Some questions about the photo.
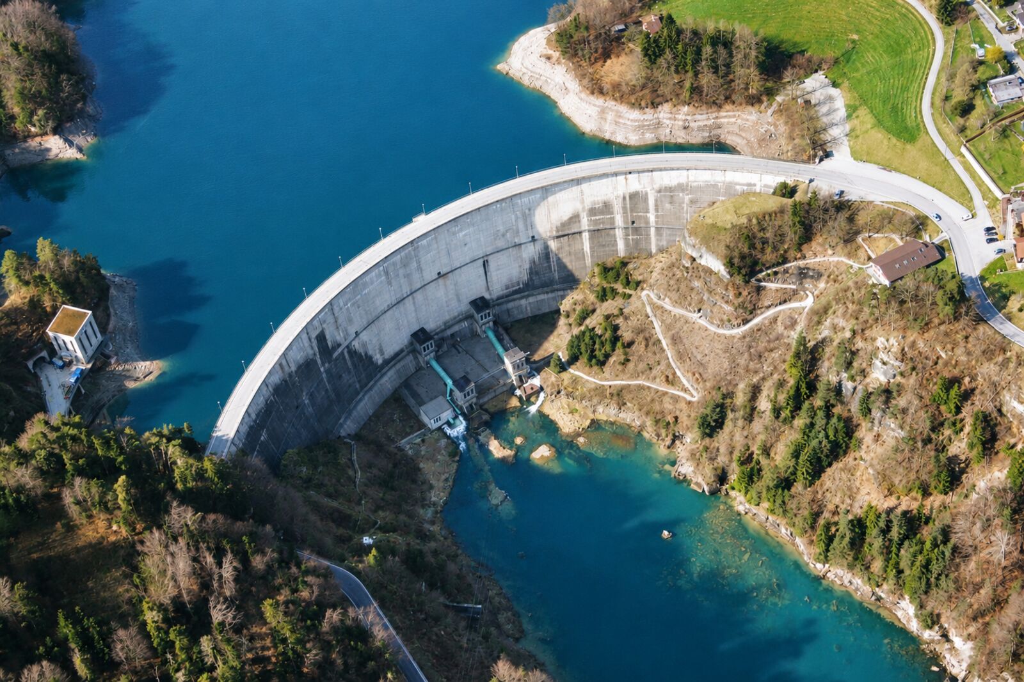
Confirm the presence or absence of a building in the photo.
Yes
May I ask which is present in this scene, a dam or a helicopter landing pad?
dam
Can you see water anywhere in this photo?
Yes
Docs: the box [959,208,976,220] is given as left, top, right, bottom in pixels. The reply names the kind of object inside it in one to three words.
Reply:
vehicle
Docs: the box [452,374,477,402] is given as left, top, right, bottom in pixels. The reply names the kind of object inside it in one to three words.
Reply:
house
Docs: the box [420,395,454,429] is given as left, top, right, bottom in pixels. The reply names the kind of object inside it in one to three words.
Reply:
house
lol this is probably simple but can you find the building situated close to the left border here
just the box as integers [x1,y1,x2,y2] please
[47,304,109,366]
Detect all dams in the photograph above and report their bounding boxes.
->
[203,150,821,477]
